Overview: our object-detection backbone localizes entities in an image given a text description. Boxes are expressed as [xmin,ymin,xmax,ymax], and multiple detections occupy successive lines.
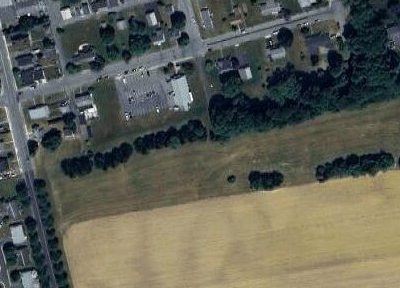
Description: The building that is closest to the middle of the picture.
[172,76,193,111]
